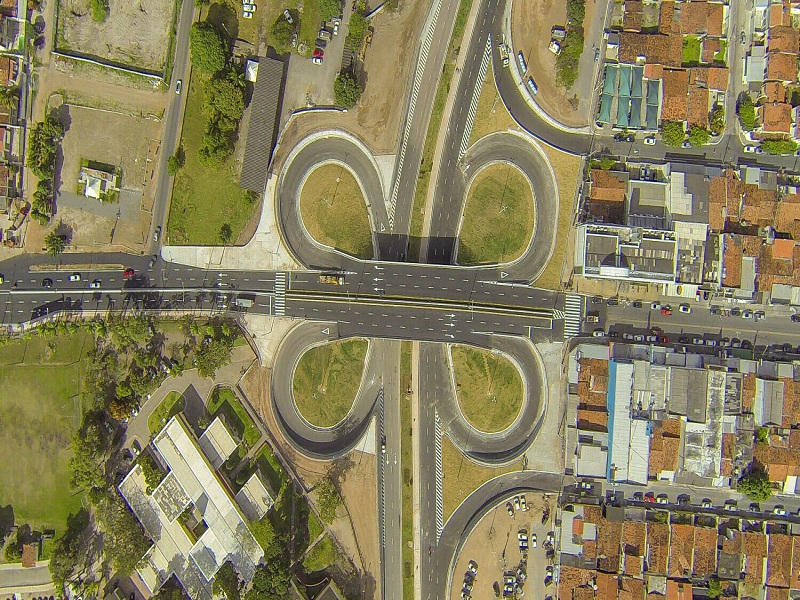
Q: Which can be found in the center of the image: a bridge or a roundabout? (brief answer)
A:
bridge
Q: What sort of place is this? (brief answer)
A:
residential area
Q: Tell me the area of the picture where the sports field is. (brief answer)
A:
bottom left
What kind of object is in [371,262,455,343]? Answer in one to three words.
bridge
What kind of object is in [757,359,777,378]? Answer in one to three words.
house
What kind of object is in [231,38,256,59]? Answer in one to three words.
shed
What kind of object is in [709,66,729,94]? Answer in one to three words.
house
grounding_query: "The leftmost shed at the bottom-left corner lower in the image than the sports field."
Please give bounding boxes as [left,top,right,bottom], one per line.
[21,541,40,567]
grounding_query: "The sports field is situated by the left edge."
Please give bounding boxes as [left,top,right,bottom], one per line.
[0,373,84,531]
